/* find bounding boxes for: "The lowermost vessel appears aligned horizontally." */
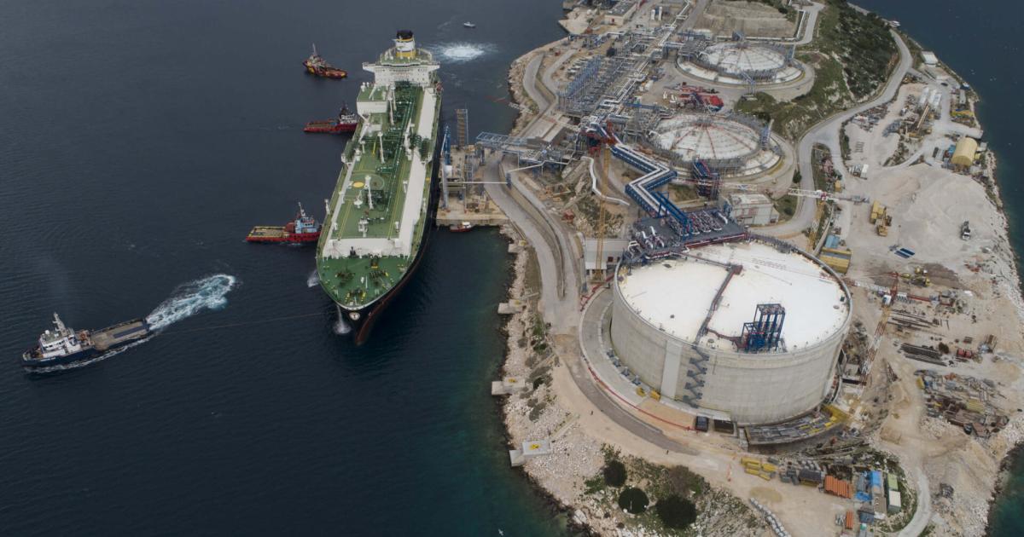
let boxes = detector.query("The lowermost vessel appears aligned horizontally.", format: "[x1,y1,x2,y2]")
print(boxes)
[17,293,151,363]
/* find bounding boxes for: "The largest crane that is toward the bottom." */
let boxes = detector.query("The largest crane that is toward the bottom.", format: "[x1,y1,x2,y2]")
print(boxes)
[735,253,968,392]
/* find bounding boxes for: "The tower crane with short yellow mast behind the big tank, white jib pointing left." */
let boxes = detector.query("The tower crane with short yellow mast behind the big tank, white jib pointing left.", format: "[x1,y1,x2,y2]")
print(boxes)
[670,171,868,255]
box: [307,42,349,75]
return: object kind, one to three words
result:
boat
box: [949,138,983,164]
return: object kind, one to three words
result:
building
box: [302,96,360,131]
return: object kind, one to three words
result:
boat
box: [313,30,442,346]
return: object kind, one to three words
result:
ship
